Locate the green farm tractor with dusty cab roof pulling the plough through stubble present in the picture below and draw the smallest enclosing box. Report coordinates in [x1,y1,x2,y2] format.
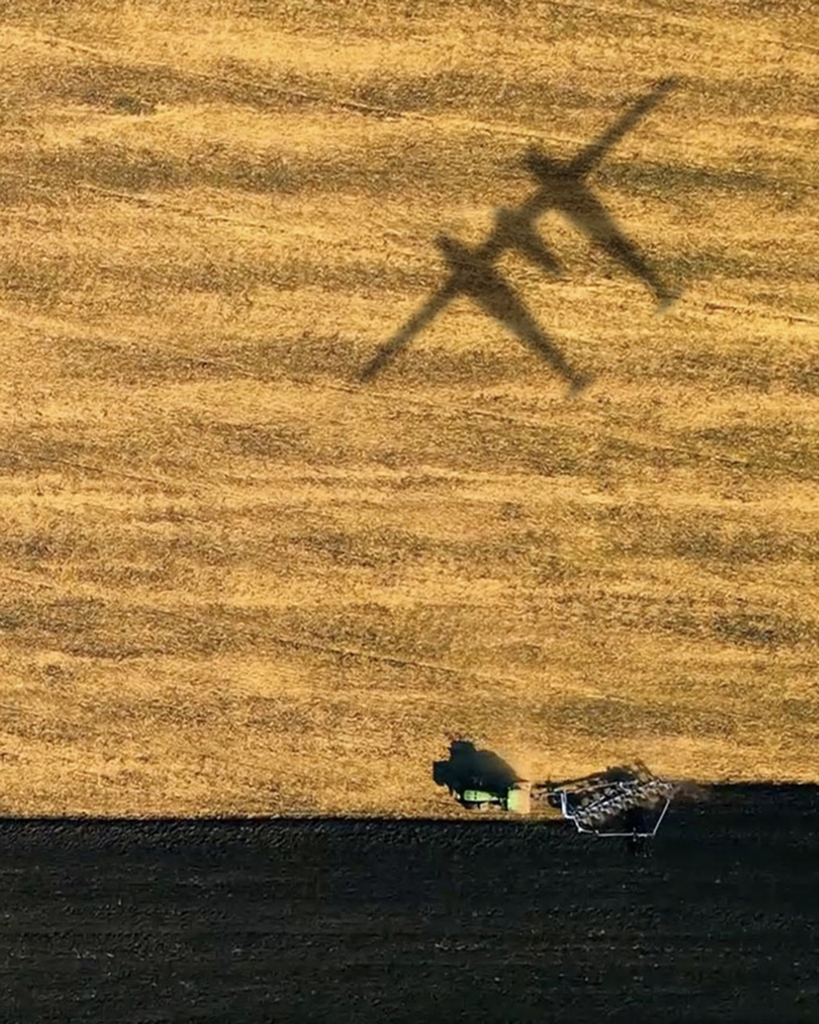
[456,773,535,814]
